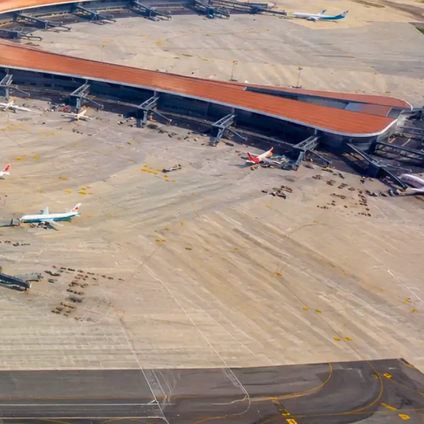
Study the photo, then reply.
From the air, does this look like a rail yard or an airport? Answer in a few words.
airport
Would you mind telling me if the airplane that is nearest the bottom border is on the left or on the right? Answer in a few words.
left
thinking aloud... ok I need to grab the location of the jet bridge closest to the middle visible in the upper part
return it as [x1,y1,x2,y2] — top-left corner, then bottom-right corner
[210,117,251,150]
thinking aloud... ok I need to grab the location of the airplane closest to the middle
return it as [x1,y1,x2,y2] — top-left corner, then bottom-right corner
[232,144,286,164]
